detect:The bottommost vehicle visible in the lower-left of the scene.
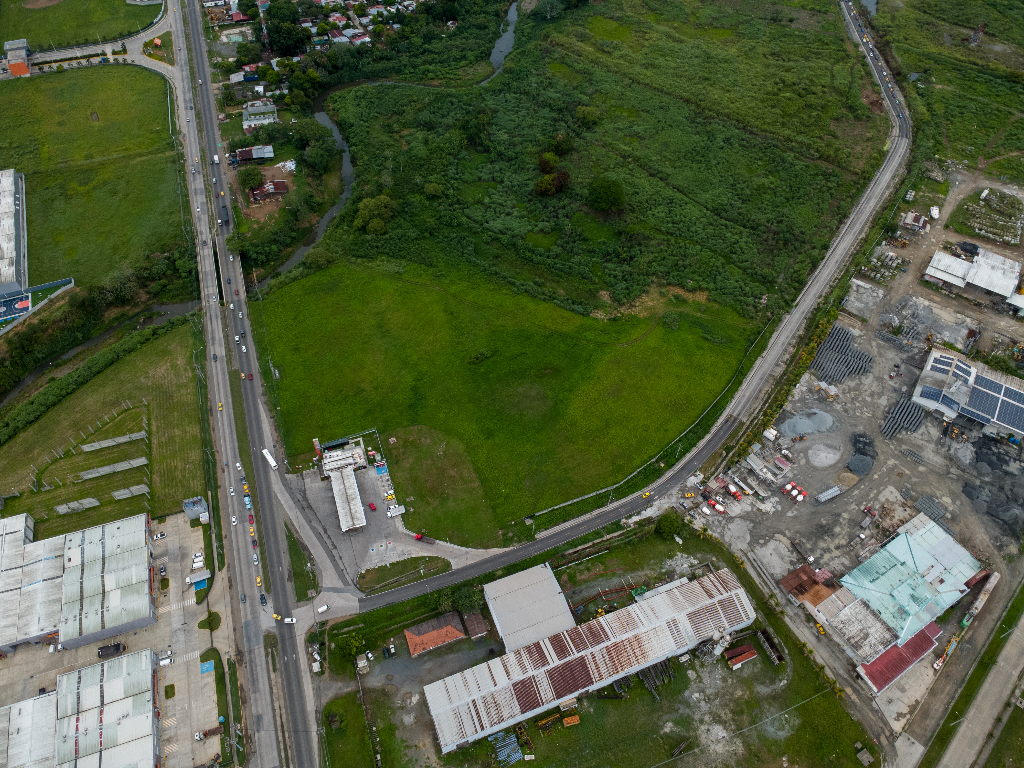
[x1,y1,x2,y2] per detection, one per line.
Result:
[197,725,220,738]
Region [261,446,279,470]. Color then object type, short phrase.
white vehicle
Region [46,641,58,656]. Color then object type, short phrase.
white vehicle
